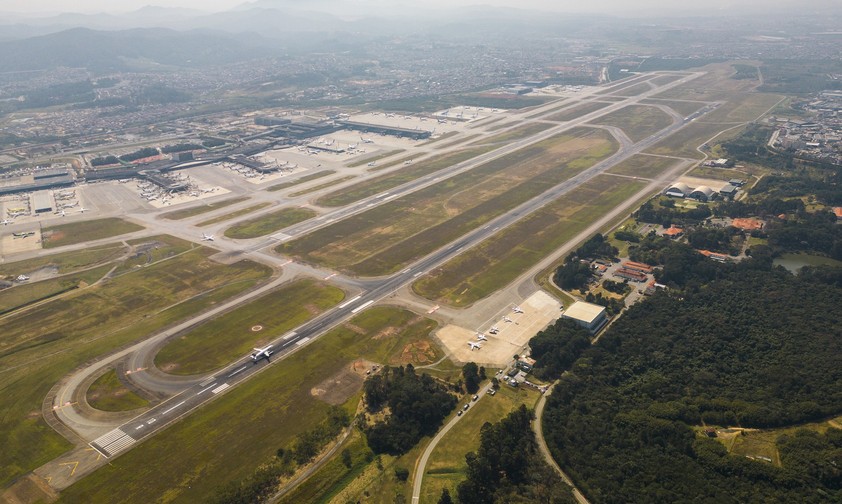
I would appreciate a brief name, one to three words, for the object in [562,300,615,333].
building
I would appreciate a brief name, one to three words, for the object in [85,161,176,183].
building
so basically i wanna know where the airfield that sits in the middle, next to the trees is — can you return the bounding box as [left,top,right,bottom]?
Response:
[0,71,733,488]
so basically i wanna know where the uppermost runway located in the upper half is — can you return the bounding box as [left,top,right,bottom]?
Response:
[210,71,709,264]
